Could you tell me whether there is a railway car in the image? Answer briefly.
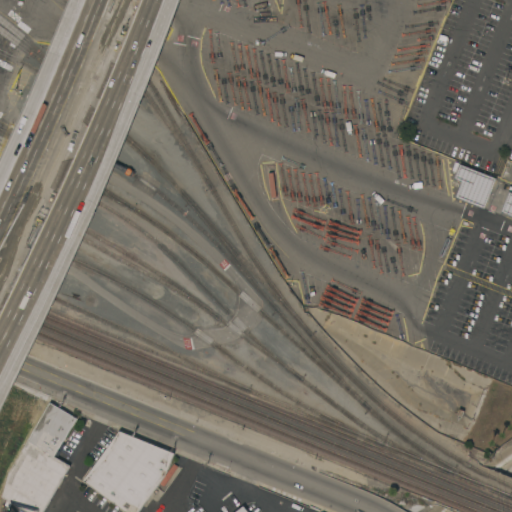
No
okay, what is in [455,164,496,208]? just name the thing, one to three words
building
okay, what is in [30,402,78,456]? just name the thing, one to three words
building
